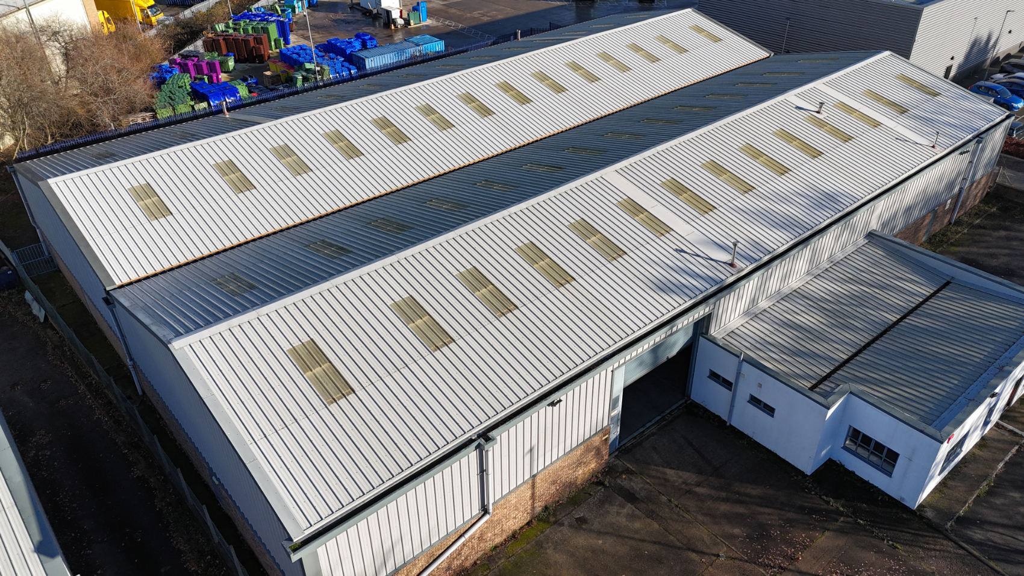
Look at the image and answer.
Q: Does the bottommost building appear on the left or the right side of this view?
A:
left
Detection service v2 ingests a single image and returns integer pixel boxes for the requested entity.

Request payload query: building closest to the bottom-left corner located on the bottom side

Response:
[0,399,81,576]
